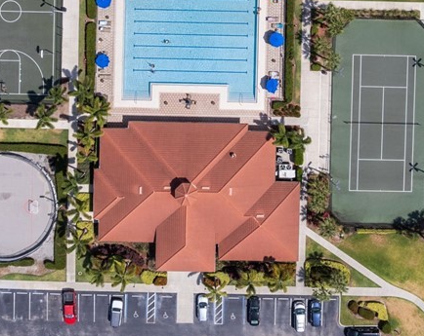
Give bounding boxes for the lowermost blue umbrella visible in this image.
[263,78,279,94]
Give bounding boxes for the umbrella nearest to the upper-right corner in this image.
[268,31,284,48]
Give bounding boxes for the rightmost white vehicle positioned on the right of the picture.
[293,298,306,333]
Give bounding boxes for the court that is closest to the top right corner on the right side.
[331,19,424,223]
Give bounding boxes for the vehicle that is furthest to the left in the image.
[62,288,75,325]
